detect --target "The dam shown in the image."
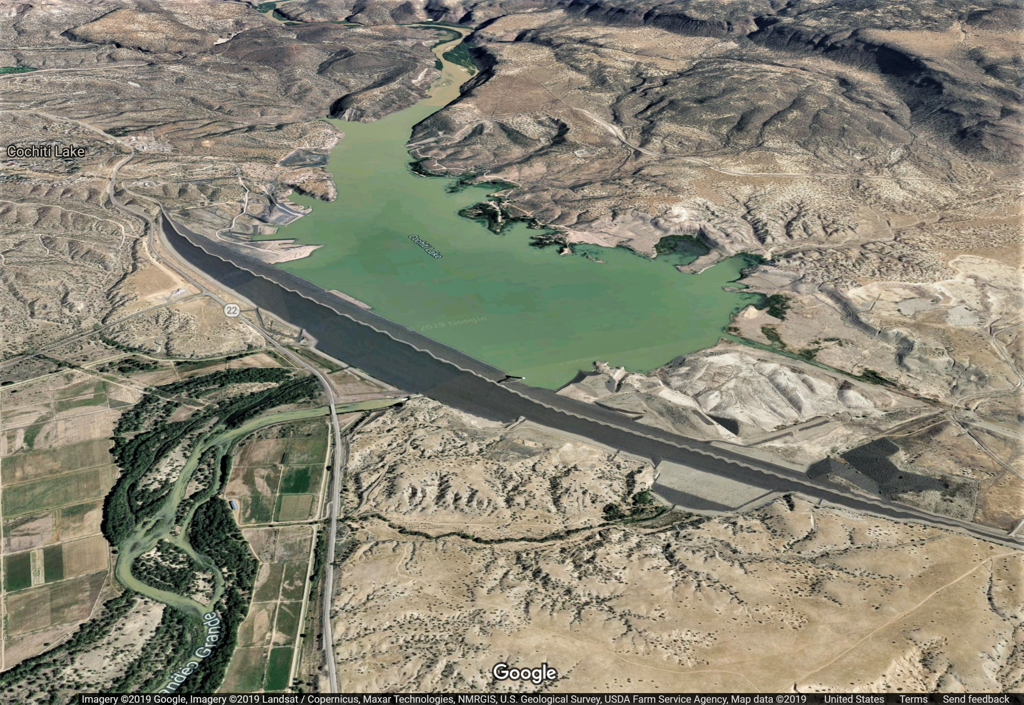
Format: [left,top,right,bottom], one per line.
[158,204,1024,556]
